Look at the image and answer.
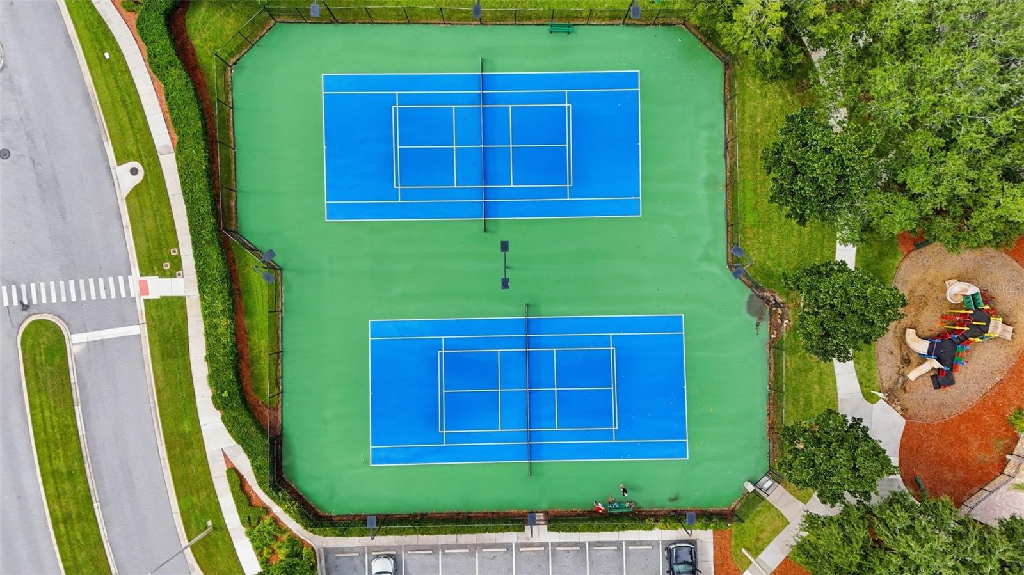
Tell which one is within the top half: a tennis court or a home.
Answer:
tennis court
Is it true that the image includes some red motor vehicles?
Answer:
No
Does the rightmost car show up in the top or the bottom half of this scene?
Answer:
bottom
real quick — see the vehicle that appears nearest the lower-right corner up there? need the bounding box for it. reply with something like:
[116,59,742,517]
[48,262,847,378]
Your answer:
[666,543,699,575]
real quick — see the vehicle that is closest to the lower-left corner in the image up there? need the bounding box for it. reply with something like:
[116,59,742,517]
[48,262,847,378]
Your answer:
[370,555,396,575]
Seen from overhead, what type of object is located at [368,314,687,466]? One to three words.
tennis court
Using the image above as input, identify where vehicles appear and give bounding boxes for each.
[370,555,396,575]
[666,543,699,575]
